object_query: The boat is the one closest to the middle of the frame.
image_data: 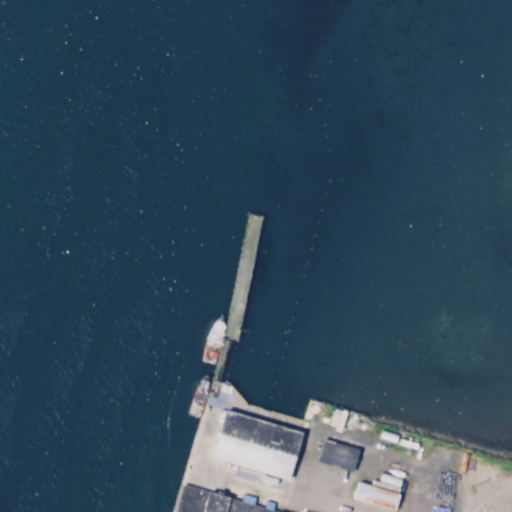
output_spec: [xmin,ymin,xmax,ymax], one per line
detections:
[202,316,224,366]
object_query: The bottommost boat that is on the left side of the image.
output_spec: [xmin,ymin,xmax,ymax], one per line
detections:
[188,376,210,418]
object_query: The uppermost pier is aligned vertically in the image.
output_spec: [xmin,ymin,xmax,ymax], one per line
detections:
[225,213,264,342]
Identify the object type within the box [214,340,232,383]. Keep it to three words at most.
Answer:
pier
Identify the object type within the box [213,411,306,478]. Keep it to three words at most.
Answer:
building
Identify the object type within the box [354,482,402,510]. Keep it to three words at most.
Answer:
shed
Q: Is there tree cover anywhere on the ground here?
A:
No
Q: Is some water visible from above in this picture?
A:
Yes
